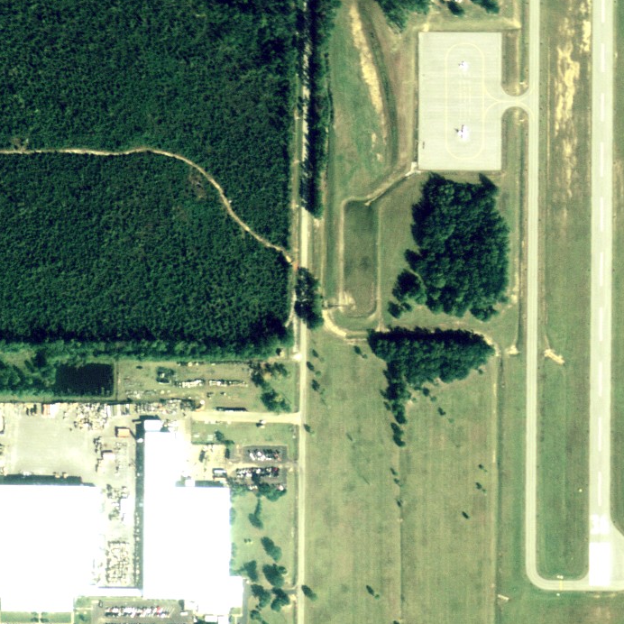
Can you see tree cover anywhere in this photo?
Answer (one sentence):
Yes, tree cover can be seen from above here.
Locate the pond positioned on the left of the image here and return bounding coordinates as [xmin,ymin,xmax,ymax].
[55,364,114,395]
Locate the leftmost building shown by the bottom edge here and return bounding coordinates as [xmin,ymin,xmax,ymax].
[0,482,96,613]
